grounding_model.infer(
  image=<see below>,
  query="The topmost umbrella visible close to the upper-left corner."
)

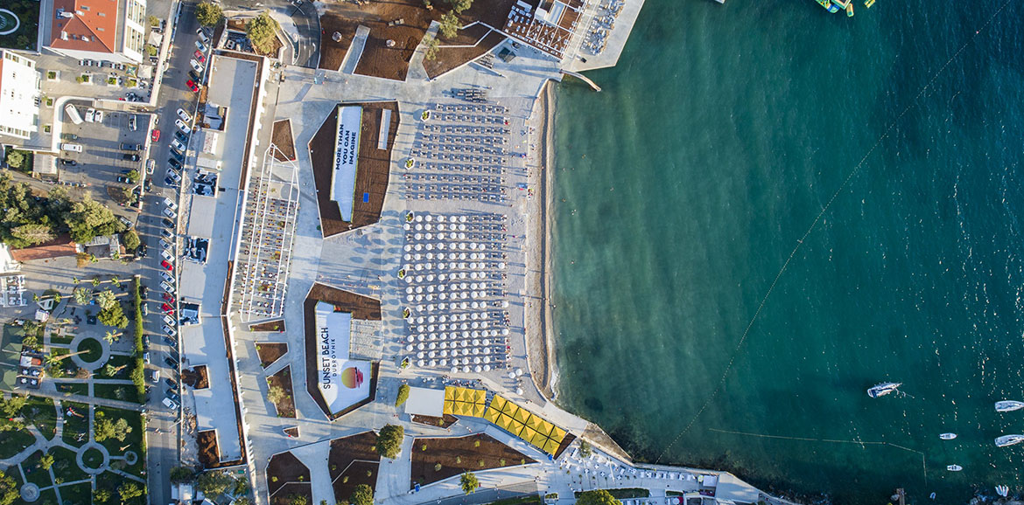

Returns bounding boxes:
[149,31,162,47]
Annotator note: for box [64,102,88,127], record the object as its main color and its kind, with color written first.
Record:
white bus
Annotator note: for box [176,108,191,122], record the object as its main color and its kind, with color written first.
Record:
white car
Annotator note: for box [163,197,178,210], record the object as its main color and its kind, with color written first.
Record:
white vehicle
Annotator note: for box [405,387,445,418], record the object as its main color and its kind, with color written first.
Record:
white tent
